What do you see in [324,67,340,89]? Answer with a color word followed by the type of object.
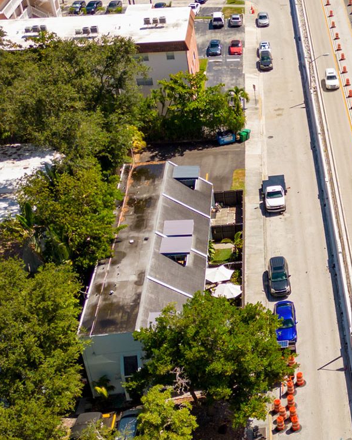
white car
